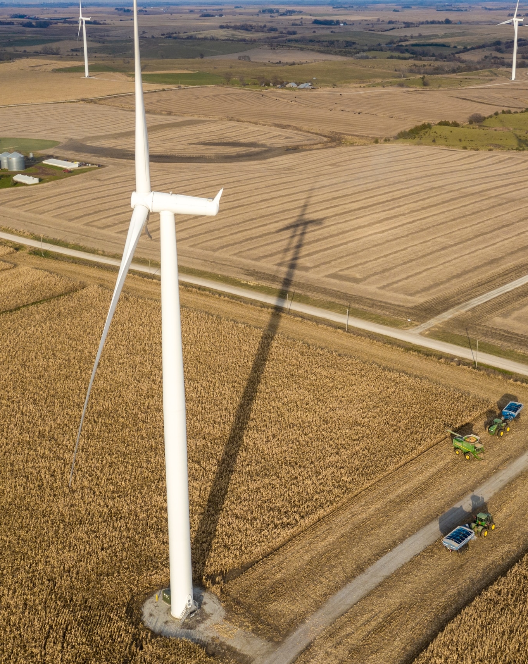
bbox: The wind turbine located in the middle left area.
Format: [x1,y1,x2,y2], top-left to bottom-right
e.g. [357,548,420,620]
[65,0,217,634]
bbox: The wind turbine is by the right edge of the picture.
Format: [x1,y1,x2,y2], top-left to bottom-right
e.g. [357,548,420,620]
[500,0,525,81]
